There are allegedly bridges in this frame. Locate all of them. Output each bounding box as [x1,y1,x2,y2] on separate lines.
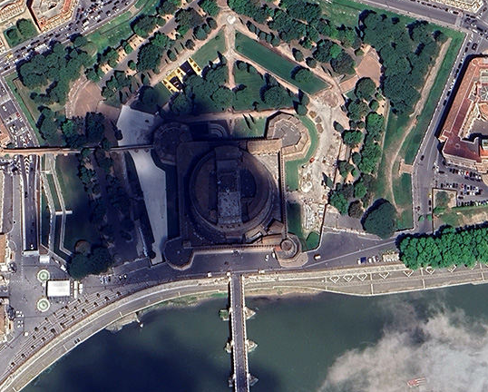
[224,274,255,392]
